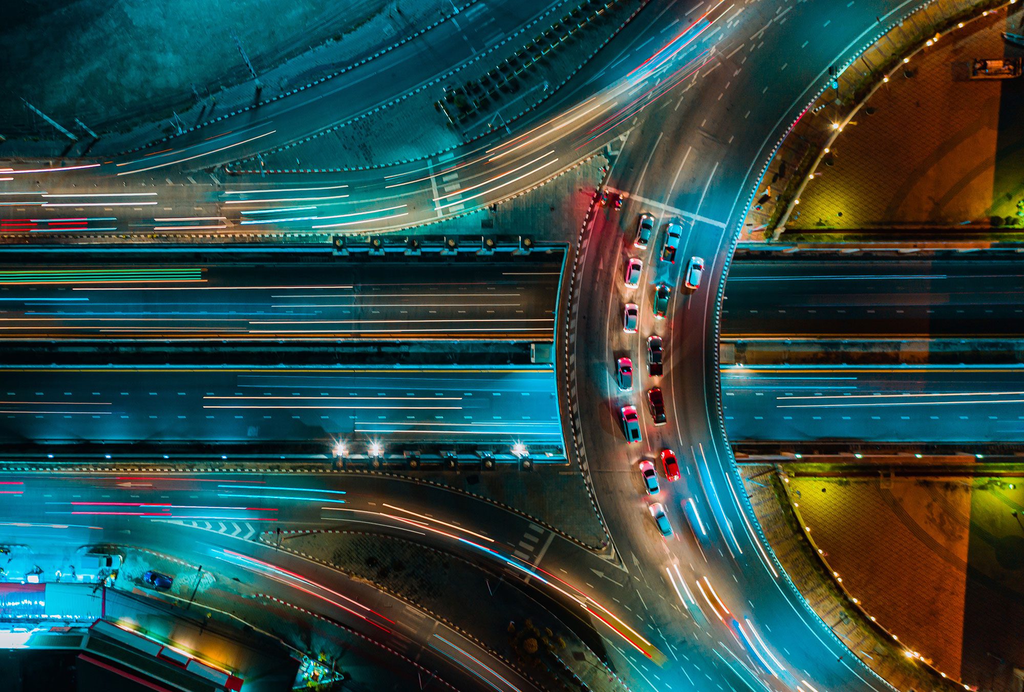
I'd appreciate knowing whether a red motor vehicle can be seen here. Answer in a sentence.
Yes, a red motor vehicle appears in the view.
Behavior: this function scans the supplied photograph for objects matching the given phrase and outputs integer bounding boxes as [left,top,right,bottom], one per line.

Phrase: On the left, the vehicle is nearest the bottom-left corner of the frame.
[79,553,124,571]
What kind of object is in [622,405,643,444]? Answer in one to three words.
vehicle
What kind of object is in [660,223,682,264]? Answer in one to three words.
truck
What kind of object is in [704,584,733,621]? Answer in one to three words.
car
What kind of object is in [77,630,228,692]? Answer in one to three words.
building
